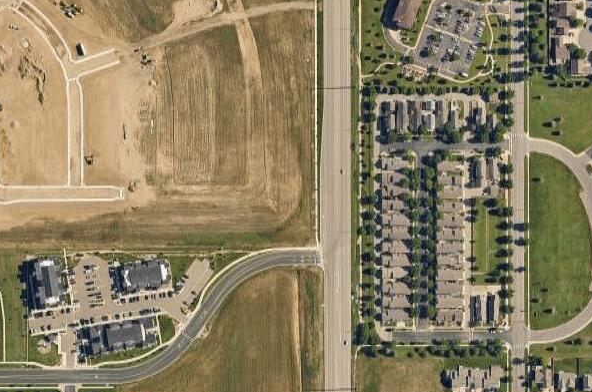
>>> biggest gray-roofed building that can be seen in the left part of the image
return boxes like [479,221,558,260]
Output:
[77,319,150,356]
